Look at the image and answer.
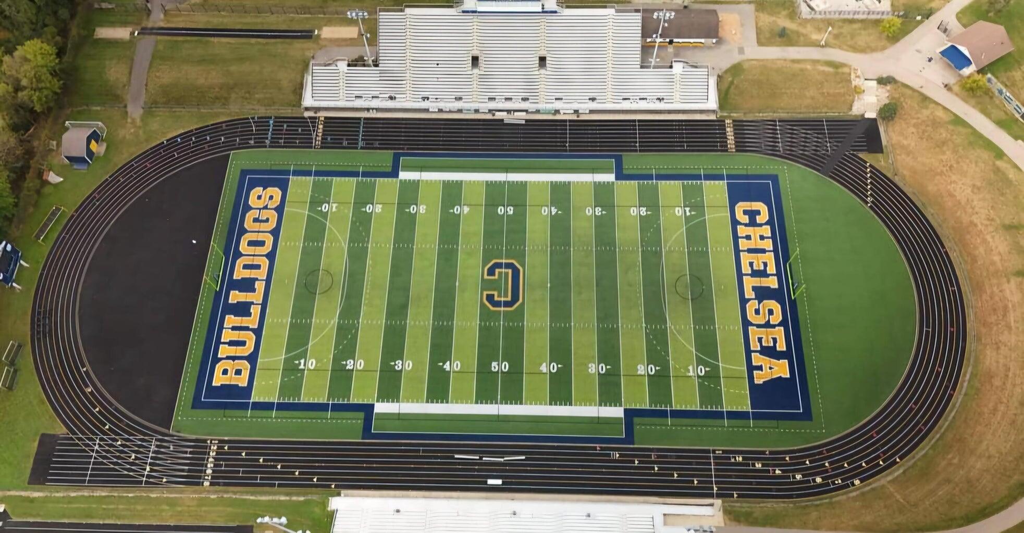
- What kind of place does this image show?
sports ground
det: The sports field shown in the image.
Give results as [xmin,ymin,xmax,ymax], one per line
[252,177,750,410]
